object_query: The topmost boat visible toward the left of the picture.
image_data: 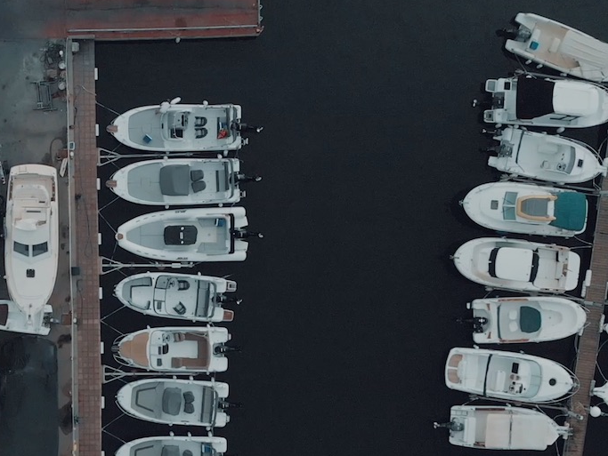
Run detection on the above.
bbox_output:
[107,96,261,154]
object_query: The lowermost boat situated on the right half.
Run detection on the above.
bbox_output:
[434,404,574,452]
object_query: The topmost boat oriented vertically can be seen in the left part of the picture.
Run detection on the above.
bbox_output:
[5,164,59,327]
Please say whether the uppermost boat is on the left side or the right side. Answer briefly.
right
